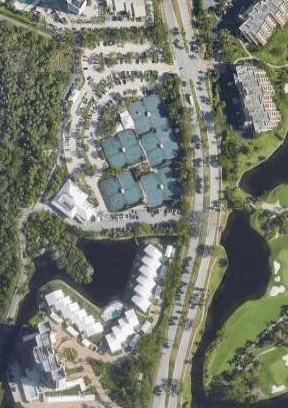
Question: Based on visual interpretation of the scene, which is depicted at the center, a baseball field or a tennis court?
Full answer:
Looking at the center, you will find a tennis court.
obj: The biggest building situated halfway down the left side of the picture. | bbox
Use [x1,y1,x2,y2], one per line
[52,180,95,223]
